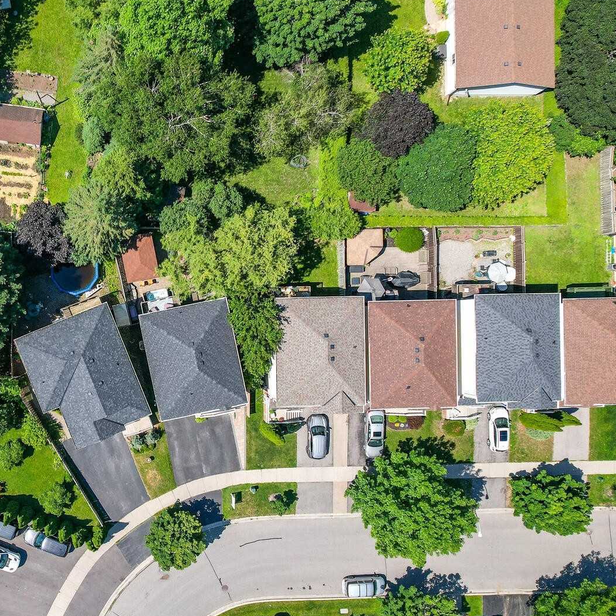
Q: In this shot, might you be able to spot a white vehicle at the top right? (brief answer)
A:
No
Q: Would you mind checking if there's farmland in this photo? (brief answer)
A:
No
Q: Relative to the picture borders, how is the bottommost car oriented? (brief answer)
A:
from side to side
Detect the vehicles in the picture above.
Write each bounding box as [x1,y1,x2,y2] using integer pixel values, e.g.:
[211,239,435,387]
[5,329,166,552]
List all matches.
[486,406,512,452]
[365,410,386,457]
[0,516,22,543]
[340,575,385,597]
[23,527,71,559]
[0,545,22,571]
[308,412,331,459]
